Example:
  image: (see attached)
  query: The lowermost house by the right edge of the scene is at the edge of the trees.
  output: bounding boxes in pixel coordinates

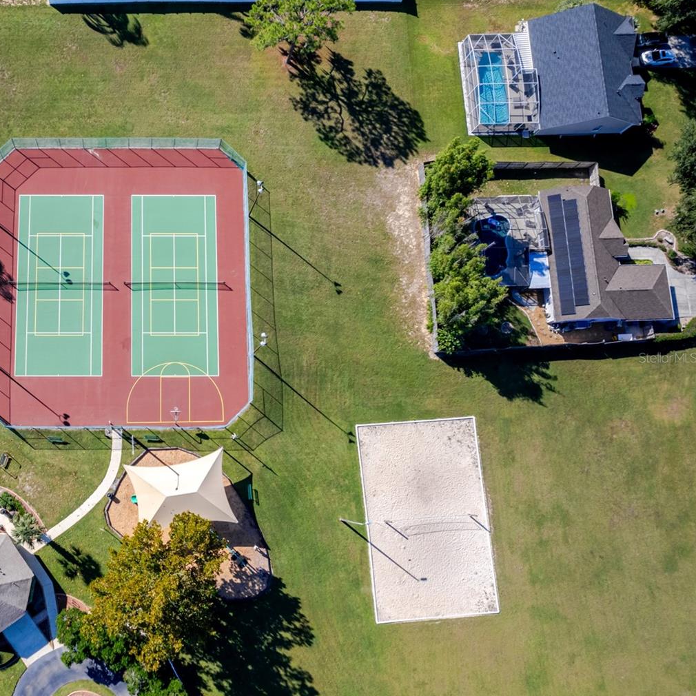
[533,185,674,323]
